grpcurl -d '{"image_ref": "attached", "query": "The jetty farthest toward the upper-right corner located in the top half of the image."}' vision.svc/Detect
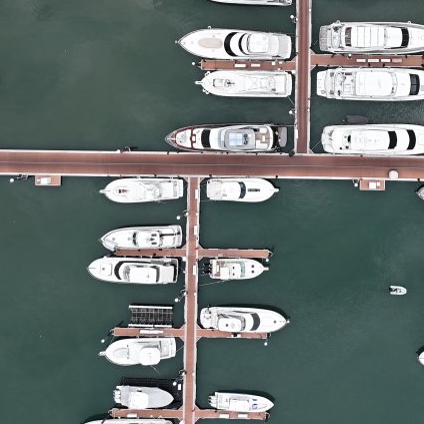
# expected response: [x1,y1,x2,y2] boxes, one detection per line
[311,47,424,76]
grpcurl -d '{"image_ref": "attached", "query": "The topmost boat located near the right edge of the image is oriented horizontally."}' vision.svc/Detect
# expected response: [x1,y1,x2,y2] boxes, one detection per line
[319,23,424,57]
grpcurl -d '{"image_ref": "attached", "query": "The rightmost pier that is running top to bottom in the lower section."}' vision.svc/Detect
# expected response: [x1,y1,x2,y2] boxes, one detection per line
[182,178,200,424]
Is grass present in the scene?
No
